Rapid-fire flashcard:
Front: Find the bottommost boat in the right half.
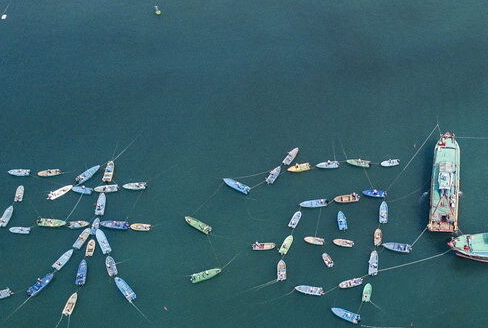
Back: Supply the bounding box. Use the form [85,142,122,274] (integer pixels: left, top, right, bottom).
[331,308,361,324]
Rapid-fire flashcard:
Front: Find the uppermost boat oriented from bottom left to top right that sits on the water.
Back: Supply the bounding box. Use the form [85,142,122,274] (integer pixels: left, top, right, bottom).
[282,147,299,166]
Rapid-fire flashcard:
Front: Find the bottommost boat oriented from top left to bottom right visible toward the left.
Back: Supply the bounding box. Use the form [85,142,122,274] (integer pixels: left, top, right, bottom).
[116,277,138,303]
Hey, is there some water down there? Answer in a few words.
Yes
